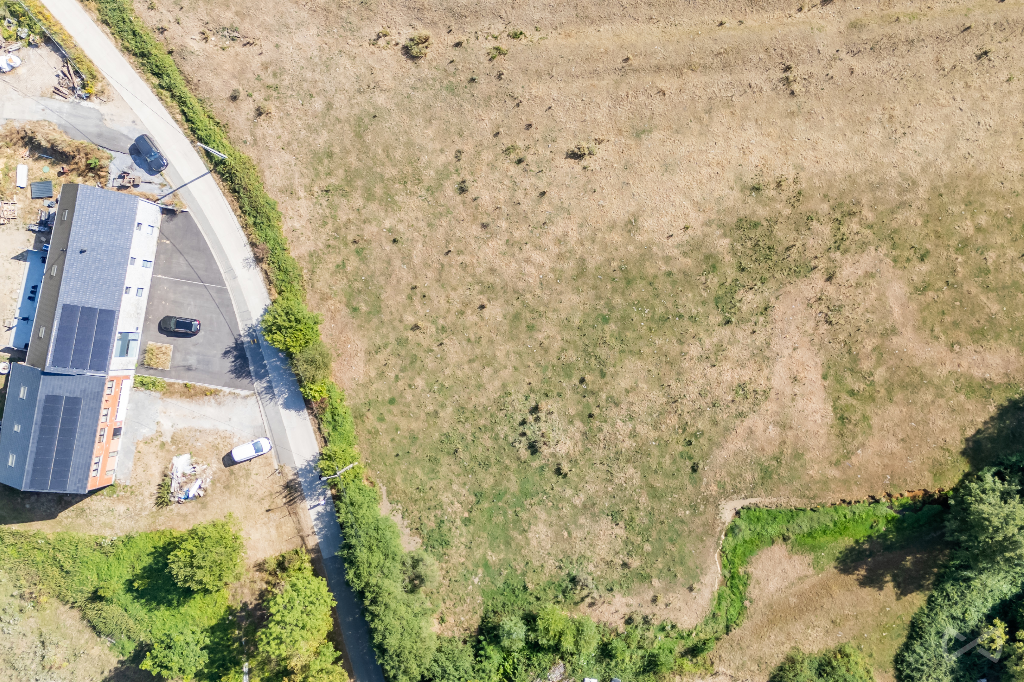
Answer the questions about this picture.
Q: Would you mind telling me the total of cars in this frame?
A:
3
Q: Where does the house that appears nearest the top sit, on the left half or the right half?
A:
left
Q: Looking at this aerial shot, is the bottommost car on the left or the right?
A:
left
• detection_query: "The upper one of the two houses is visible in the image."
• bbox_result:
[29,183,163,378]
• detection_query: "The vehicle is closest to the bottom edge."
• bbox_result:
[230,436,276,464]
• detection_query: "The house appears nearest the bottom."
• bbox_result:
[0,361,132,495]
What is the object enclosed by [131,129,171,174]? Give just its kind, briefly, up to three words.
car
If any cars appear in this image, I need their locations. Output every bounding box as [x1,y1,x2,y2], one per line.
[131,129,171,174]
[160,313,204,337]
[230,436,276,464]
